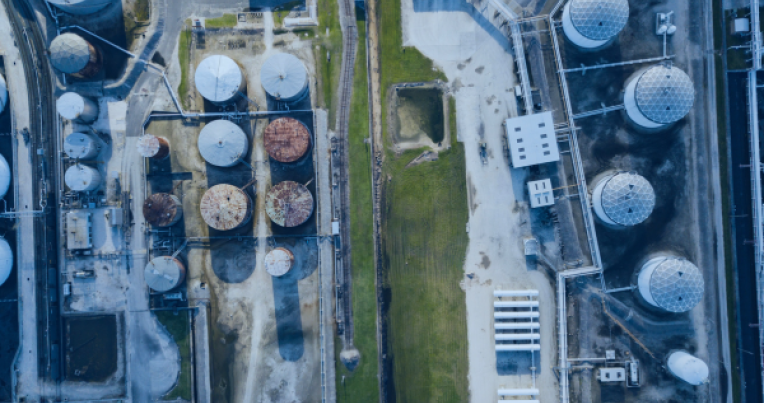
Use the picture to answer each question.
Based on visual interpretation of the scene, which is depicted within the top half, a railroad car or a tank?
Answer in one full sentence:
Looking within the top half, you will find a tank.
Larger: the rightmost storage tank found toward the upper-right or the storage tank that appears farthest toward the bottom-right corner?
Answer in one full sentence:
The rightmost storage tank found toward the upper-right covers a greater area than the storage tank that appears farthest toward the bottom-right corner.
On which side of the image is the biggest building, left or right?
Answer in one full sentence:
The biggest building appears in the right half of the scene.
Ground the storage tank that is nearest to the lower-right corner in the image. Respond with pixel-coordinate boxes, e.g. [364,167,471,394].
[666,349,710,385]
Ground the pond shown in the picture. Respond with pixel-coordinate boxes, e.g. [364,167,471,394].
[386,78,450,153]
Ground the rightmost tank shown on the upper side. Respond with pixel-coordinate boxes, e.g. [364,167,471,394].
[624,65,695,128]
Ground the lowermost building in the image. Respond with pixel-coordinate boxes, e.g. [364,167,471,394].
[598,366,625,381]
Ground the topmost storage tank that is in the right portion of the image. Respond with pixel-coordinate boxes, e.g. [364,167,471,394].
[560,0,630,49]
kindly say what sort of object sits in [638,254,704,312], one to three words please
storage tank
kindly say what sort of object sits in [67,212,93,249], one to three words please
building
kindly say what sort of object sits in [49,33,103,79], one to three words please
storage tank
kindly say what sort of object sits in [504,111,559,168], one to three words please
building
